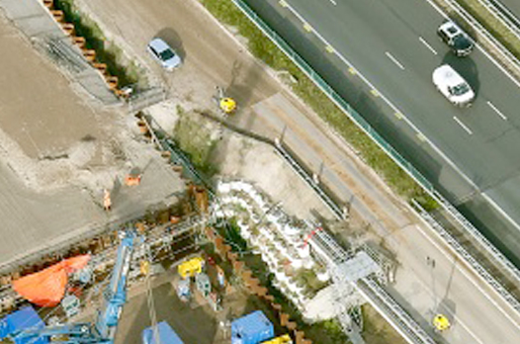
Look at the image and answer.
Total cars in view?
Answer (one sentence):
Altogether the scene contains 3 cars.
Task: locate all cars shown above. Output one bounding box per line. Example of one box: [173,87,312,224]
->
[145,37,181,72]
[432,66,475,107]
[437,20,476,58]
